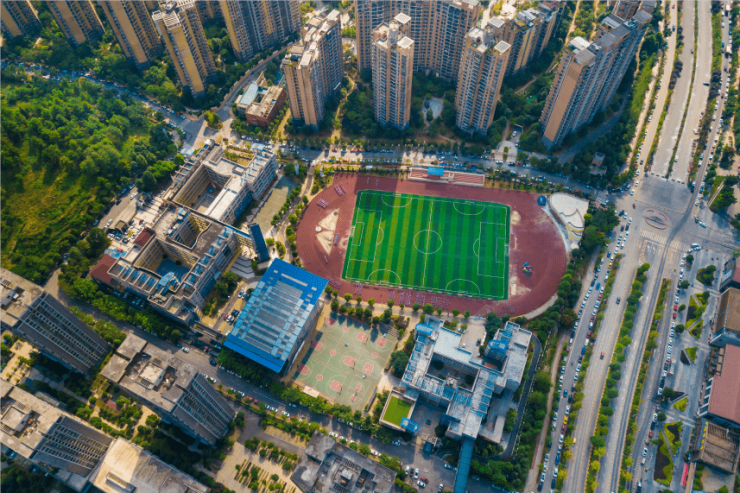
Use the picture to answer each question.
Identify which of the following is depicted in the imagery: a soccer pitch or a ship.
soccer pitch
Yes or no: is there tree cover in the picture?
Yes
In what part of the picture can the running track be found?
center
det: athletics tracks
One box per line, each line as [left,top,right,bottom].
[296,173,567,318]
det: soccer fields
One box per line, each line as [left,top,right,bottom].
[342,189,512,299]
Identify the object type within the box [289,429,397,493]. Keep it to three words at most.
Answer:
building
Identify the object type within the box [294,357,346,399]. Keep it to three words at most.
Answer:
basketball court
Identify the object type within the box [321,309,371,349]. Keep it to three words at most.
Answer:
basketball court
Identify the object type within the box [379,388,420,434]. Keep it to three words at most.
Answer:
building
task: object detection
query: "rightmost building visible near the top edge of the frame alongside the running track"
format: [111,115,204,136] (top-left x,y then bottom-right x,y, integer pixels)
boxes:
[536,8,653,147]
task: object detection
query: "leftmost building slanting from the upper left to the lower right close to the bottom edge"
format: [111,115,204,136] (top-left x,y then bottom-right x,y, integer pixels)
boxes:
[0,374,117,481]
